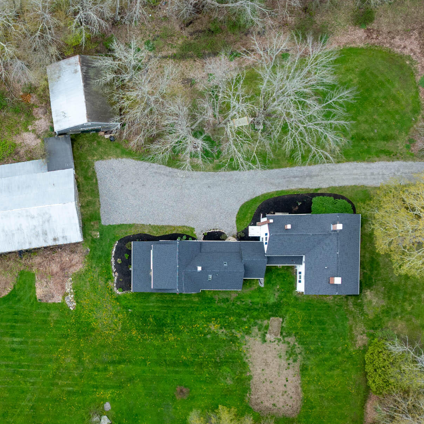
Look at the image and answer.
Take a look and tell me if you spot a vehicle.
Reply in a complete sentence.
No, the frame has no vehicle in it.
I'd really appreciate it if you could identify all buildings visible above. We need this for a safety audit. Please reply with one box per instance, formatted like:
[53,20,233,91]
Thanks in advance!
[131,213,361,295]
[46,54,120,135]
[0,160,83,253]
